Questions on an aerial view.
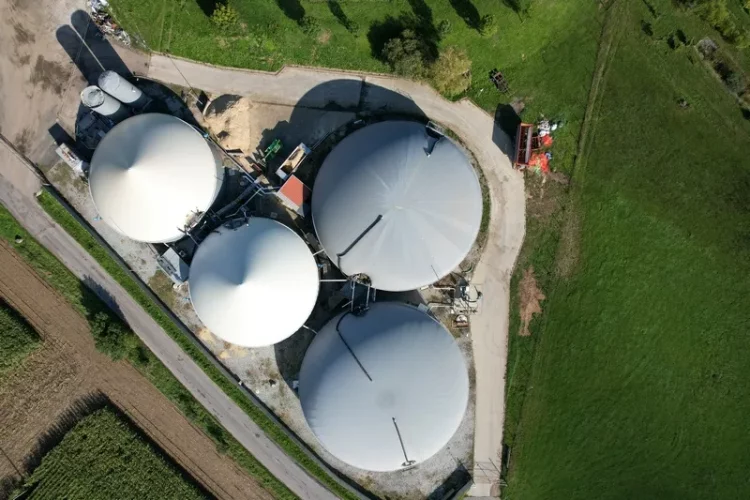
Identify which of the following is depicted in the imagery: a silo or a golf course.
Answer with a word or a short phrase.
silo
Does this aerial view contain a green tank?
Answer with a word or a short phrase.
No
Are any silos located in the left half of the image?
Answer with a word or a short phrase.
Yes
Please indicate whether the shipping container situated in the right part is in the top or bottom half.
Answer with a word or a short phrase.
bottom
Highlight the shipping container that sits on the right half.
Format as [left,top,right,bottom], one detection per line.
[442,474,475,500]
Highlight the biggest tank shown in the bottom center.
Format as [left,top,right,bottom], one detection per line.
[298,299,470,474]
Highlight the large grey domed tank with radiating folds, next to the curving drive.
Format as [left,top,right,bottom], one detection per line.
[311,121,482,294]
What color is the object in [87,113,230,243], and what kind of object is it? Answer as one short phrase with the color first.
white storage tank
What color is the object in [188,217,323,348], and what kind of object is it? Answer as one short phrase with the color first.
white storage tank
